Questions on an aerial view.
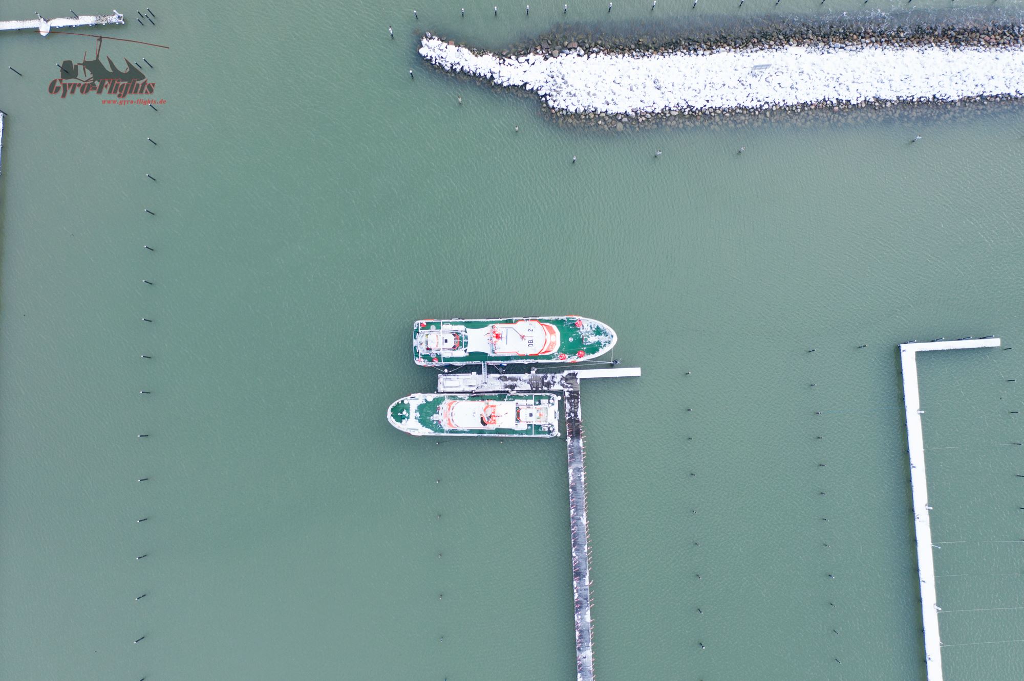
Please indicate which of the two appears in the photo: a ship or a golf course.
ship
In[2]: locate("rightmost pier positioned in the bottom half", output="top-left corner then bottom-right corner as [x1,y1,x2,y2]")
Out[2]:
[897,338,1000,681]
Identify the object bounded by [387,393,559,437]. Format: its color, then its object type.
white ship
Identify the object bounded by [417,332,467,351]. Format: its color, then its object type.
white boat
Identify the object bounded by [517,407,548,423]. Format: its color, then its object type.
white boat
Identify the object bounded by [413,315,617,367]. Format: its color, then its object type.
white ship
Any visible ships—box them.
[413,315,617,367]
[387,393,559,437]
